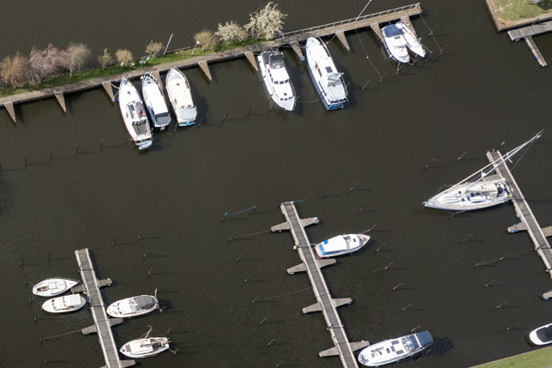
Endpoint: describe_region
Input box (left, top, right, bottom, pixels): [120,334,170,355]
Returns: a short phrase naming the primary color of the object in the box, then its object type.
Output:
white boat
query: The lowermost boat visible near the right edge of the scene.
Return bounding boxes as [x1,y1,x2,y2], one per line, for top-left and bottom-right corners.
[527,320,552,341]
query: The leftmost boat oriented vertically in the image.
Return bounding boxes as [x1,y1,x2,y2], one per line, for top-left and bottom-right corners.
[120,75,146,143]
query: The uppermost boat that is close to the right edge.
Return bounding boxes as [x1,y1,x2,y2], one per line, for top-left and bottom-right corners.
[424,135,543,211]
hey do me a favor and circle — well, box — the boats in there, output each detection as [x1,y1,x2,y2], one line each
[307,33,346,117]
[527,320,552,341]
[120,75,146,143]
[107,294,160,318]
[357,329,439,363]
[31,277,78,296]
[381,25,409,65]
[144,73,170,132]
[42,294,87,312]
[256,50,295,112]
[169,64,197,130]
[311,233,372,260]
[398,20,428,58]
[424,135,543,211]
[120,334,170,355]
